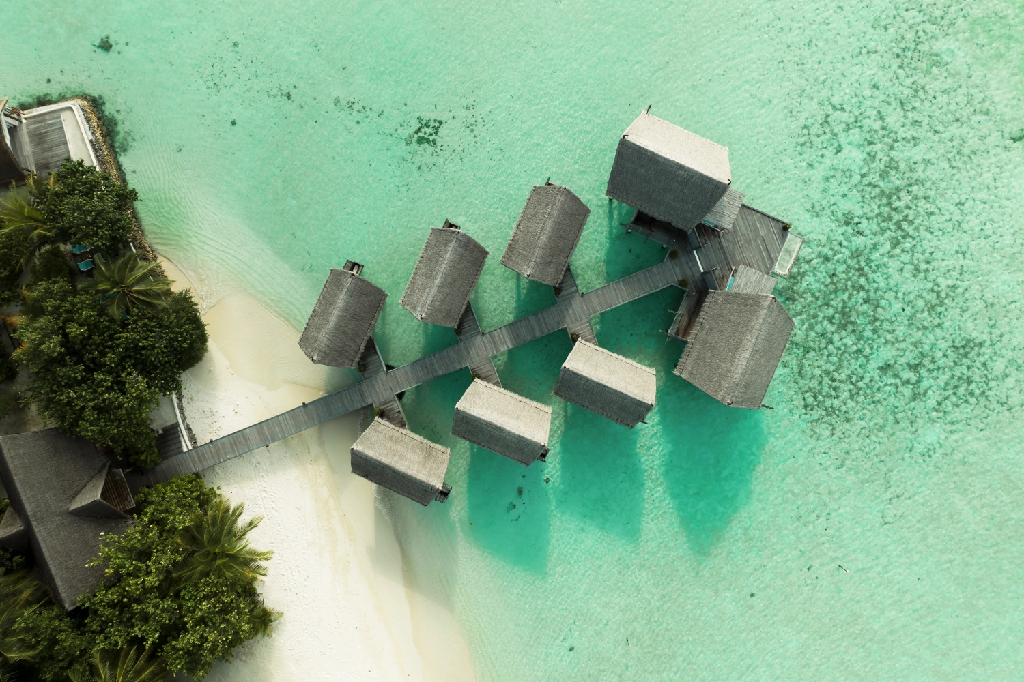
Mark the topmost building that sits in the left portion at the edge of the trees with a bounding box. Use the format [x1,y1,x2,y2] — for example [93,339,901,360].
[0,96,49,189]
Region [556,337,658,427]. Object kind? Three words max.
building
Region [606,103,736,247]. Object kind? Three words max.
building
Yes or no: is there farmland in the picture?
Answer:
No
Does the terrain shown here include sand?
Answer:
Yes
